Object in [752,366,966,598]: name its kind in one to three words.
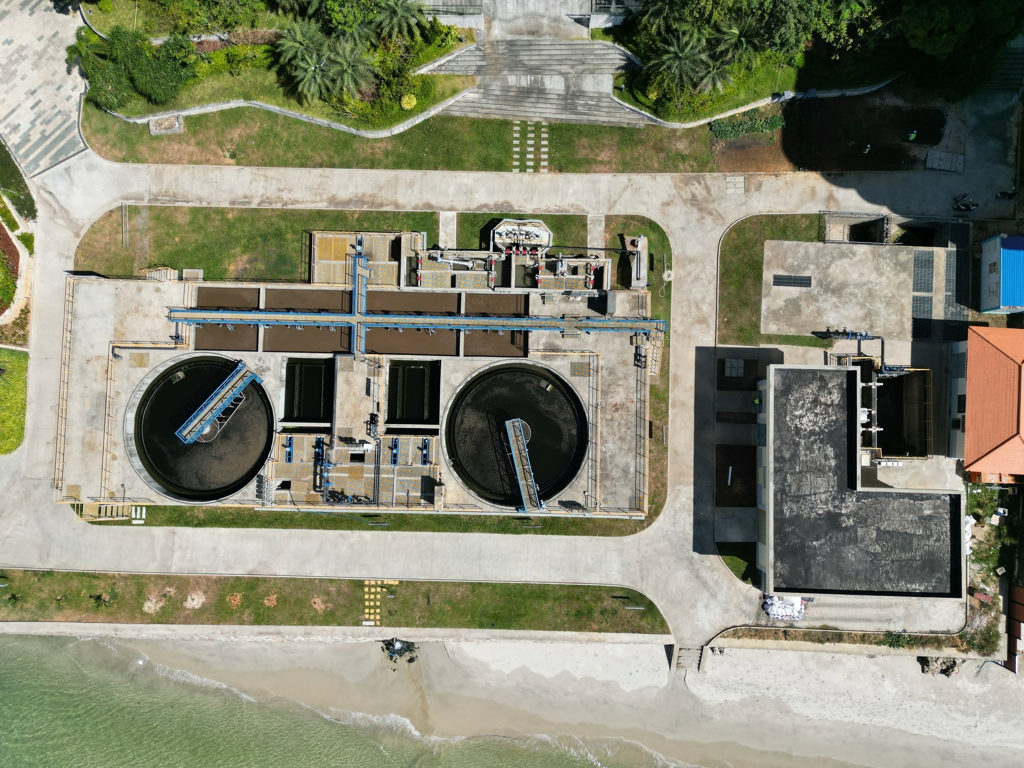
building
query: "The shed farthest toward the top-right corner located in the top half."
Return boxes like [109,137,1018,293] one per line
[980,234,1024,313]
